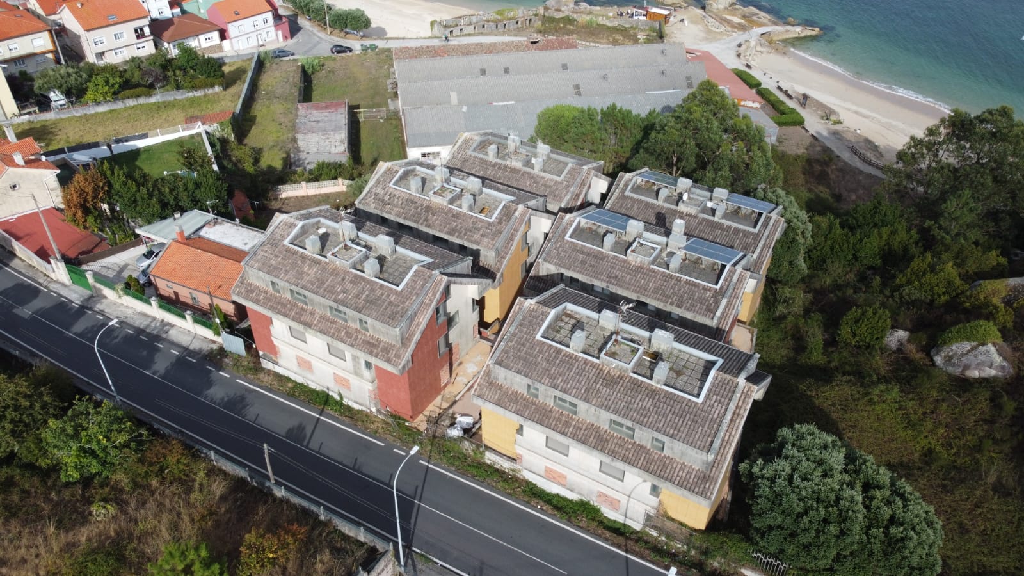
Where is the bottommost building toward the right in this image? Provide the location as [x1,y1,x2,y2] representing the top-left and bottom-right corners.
[472,281,770,562]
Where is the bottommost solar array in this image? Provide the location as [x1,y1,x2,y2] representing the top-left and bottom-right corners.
[681,234,739,277]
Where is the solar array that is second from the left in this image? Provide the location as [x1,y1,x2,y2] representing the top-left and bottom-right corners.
[639,167,681,201]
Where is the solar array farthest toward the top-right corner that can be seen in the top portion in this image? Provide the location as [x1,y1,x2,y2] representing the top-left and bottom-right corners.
[725,190,774,223]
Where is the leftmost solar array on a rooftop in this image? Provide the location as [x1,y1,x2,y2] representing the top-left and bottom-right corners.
[581,204,631,247]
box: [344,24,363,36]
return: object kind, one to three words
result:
vehicle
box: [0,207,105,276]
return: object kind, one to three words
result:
shed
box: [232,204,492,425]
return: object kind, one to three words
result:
building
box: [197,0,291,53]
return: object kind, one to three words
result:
house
